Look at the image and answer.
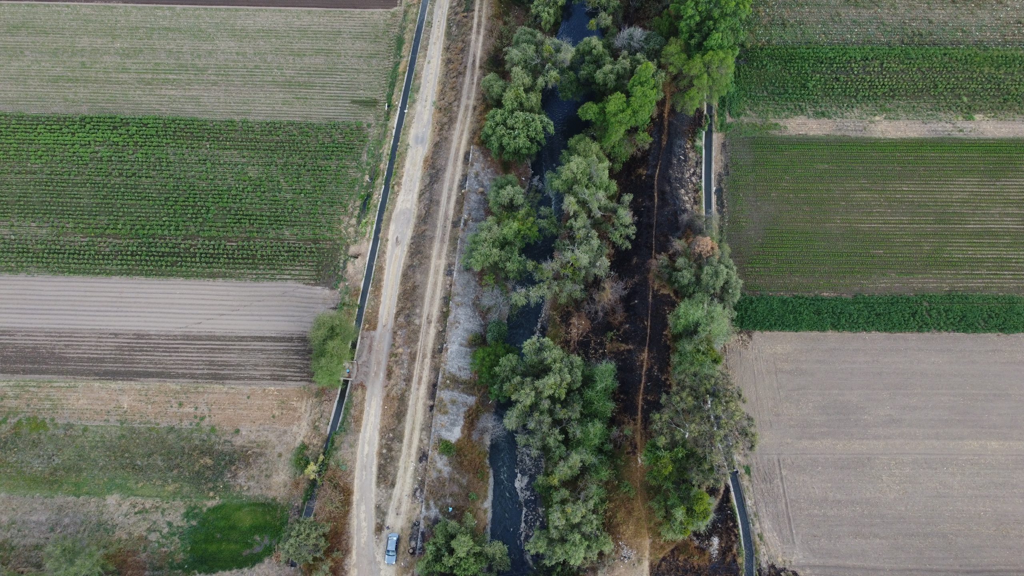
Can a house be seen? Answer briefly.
No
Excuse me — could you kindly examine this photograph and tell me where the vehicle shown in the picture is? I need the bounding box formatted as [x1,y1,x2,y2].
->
[384,533,400,566]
